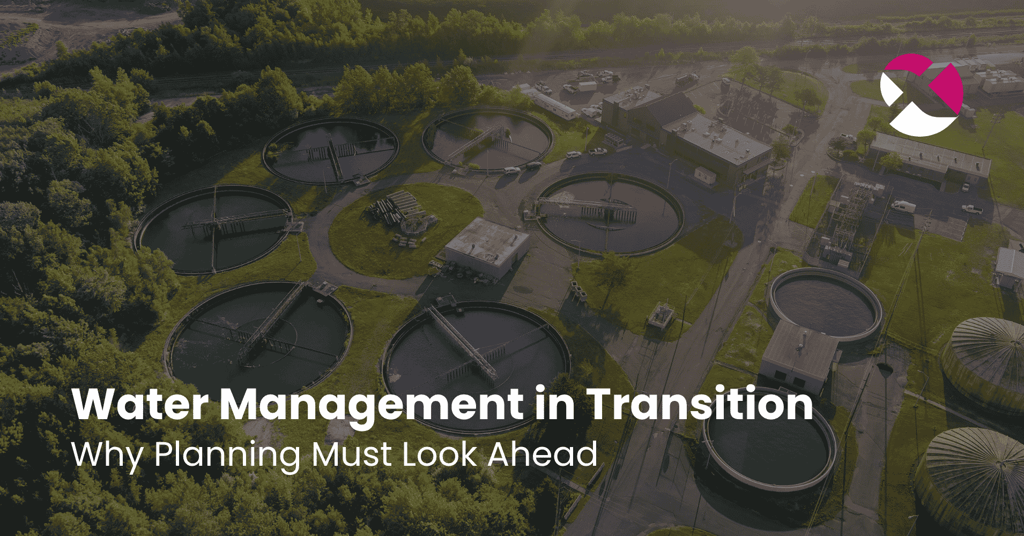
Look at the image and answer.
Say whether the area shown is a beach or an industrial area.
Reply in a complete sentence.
It's an industrial area.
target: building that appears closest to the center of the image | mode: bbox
[445,216,530,280]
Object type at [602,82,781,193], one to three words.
building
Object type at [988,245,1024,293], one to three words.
shed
